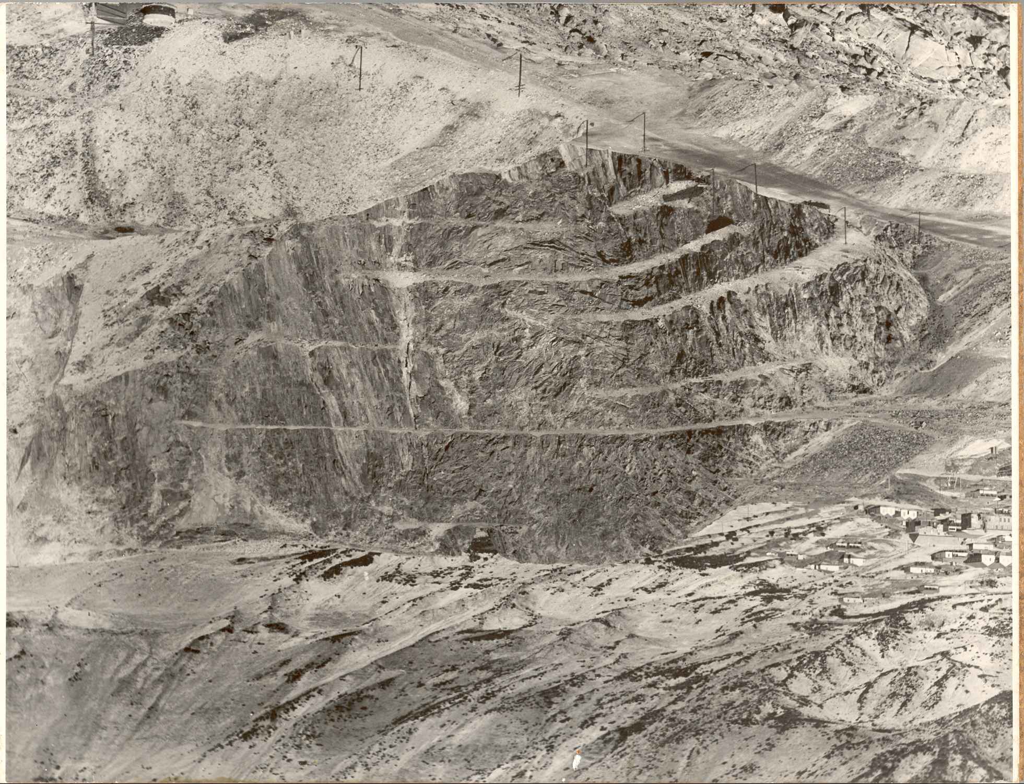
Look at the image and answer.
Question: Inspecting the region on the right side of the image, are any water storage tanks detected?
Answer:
No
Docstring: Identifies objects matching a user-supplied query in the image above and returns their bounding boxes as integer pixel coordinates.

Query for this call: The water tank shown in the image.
[141,6,182,33]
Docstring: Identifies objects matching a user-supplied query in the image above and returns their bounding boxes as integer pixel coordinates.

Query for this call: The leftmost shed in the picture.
[95,1,136,35]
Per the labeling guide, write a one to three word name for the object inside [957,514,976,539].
house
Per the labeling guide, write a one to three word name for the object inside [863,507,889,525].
house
